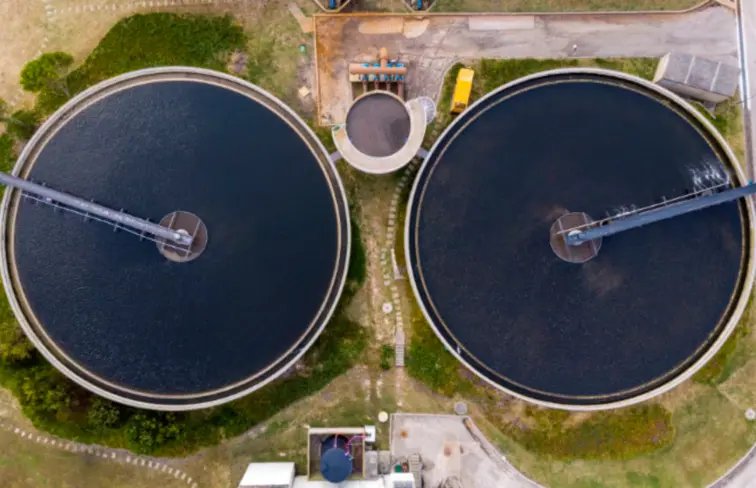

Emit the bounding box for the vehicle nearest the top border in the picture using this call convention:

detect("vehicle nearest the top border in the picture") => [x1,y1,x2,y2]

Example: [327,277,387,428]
[450,69,475,112]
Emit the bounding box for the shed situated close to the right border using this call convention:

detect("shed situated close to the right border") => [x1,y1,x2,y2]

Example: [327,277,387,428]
[655,49,738,102]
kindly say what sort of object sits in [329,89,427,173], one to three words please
water tank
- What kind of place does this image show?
industrial area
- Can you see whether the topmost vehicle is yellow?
Yes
